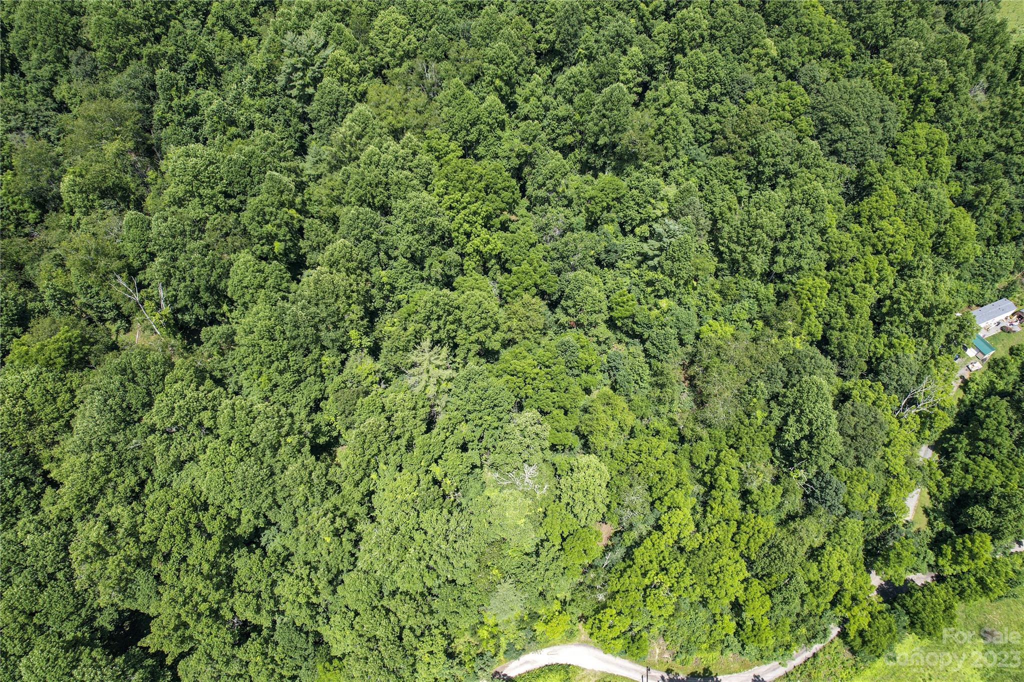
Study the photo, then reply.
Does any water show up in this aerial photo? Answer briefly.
No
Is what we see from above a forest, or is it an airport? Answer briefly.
forest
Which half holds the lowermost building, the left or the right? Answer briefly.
right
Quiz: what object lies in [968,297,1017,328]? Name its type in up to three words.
house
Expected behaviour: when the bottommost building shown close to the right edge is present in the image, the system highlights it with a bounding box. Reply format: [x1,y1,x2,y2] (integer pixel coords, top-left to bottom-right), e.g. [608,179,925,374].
[969,335,995,359]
